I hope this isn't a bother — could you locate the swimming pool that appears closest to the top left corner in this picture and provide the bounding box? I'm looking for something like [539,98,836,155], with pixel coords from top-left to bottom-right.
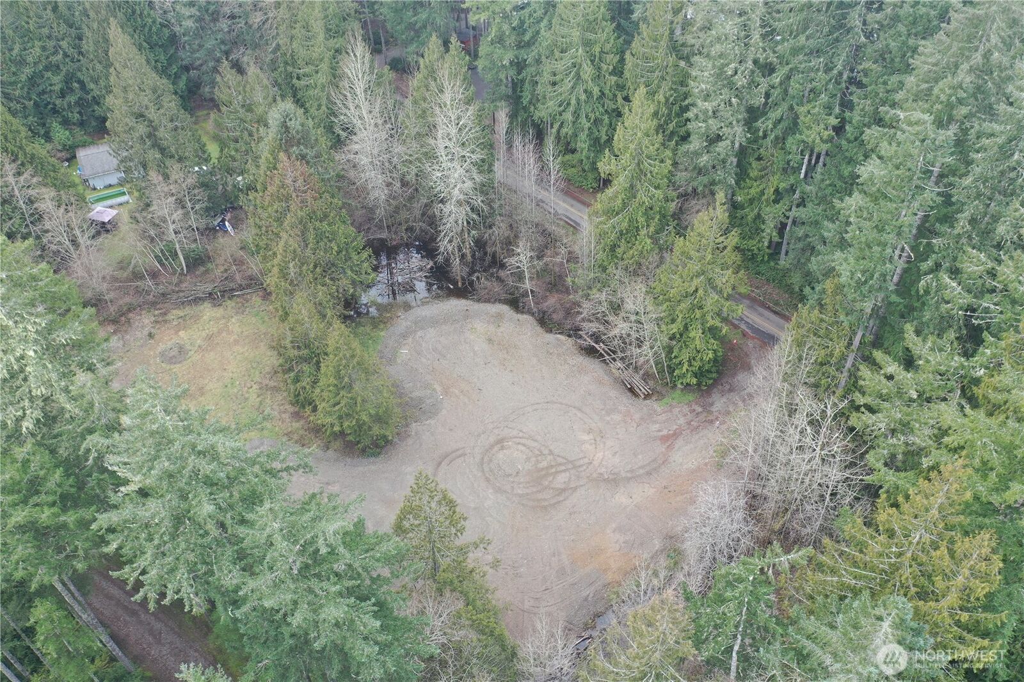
[87,188,129,209]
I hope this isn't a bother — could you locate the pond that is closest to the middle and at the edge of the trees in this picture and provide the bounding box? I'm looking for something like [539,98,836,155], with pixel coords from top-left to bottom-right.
[354,236,633,393]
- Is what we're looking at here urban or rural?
rural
